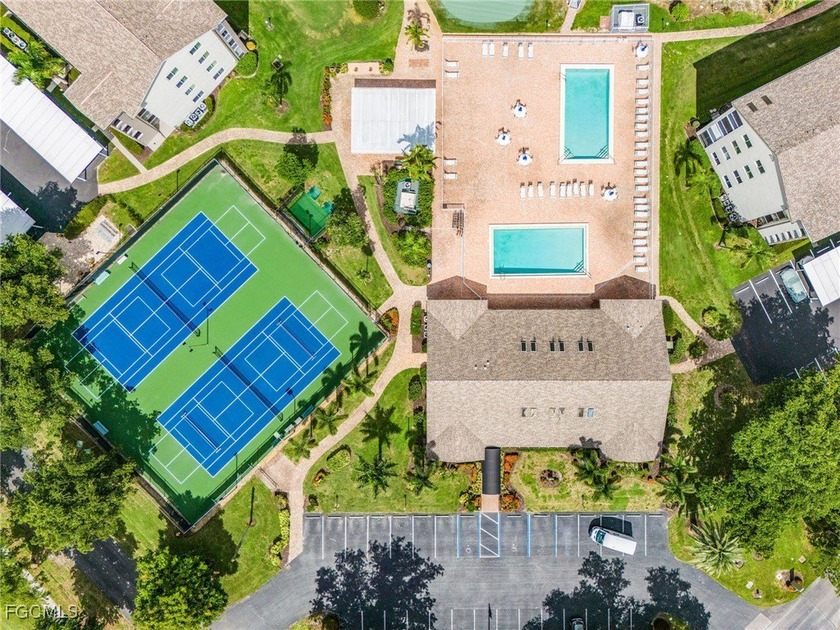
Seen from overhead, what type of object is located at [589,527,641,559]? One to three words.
van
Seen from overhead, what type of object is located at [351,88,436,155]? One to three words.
building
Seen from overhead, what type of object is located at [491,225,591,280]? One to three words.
swimming pool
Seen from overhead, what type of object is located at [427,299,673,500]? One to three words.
building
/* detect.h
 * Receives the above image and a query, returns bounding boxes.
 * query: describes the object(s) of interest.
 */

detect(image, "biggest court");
[25,158,387,532]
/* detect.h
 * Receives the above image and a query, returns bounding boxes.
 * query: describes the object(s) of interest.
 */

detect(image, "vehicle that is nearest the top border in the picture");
[778,267,808,303]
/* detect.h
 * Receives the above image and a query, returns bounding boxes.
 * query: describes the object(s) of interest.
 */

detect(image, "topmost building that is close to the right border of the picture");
[696,47,840,246]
